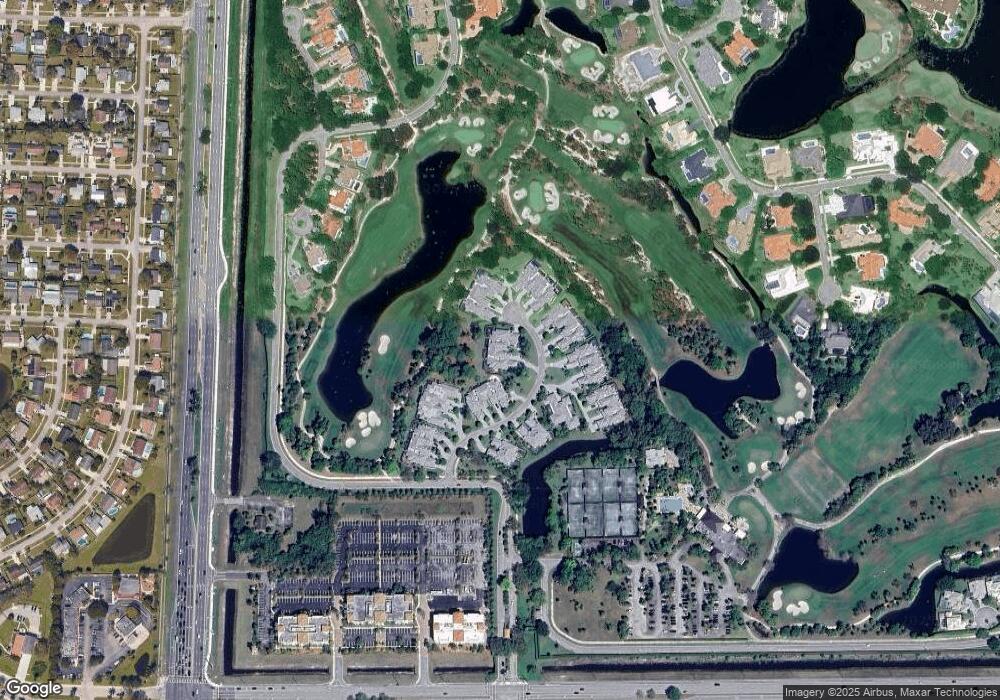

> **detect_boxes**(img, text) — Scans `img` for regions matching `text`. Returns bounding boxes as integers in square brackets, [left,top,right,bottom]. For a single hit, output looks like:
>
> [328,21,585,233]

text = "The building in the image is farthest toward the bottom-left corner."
[11,633,36,655]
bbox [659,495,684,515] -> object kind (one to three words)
swimming pool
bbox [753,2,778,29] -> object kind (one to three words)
house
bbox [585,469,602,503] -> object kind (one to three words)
tennis court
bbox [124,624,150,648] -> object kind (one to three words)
building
